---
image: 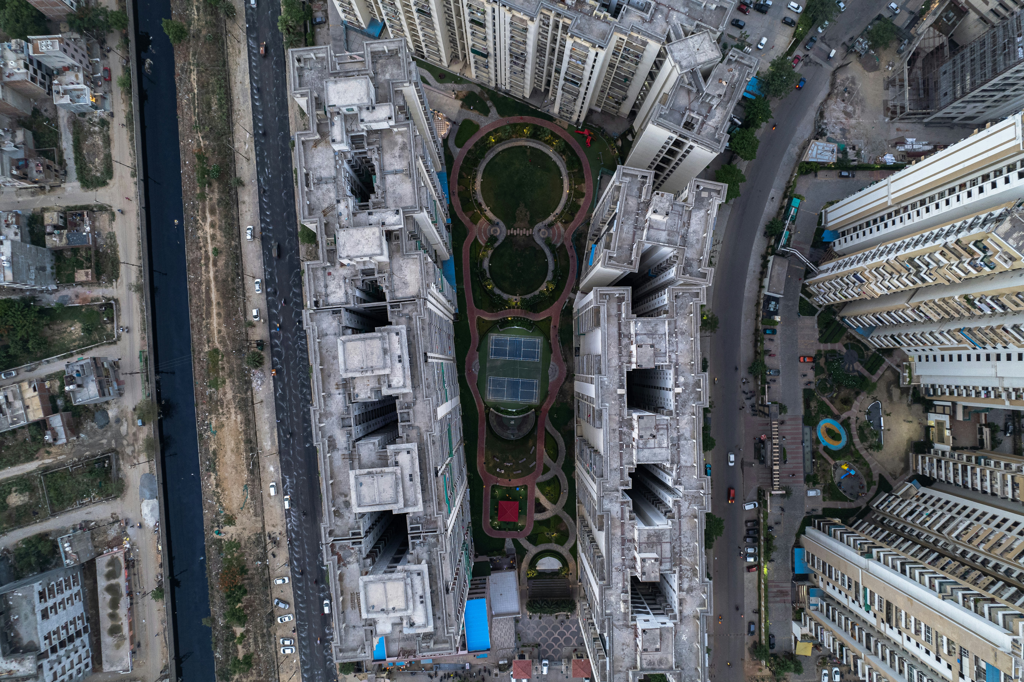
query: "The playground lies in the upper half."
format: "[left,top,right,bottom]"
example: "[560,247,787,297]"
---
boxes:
[566,123,617,188]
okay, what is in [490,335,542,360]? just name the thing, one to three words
sports court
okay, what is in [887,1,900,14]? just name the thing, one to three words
vehicle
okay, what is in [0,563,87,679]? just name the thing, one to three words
building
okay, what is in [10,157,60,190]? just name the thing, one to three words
house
